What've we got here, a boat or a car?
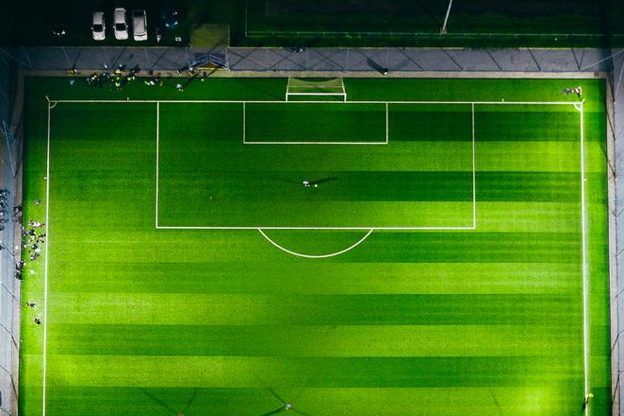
car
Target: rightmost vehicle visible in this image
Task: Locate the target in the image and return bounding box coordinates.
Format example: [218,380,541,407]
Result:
[162,0,179,35]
